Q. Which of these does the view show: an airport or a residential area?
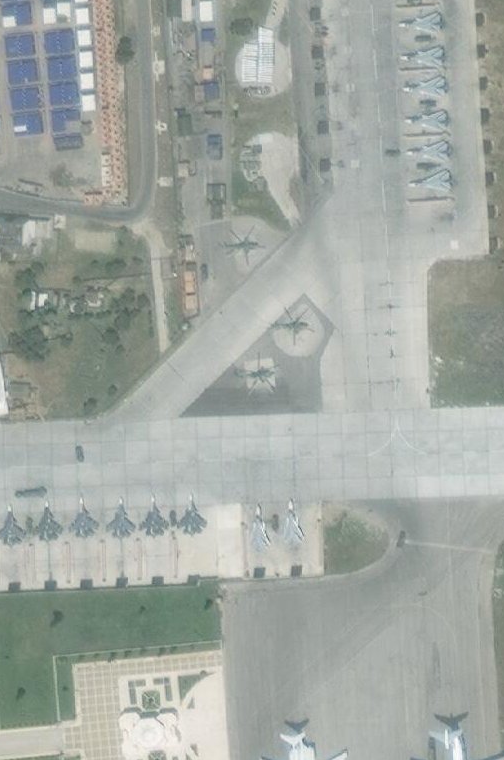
airport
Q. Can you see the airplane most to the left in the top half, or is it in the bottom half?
bottom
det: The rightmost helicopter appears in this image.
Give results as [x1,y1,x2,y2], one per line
[267,307,313,344]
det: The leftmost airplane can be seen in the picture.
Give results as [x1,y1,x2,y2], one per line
[0,504,24,546]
